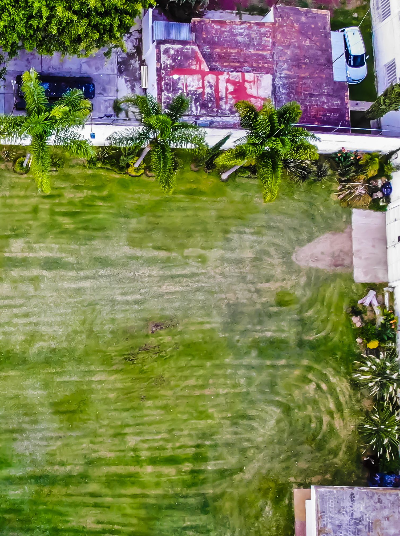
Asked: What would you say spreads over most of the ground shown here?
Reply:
grass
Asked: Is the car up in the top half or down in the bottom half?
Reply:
top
